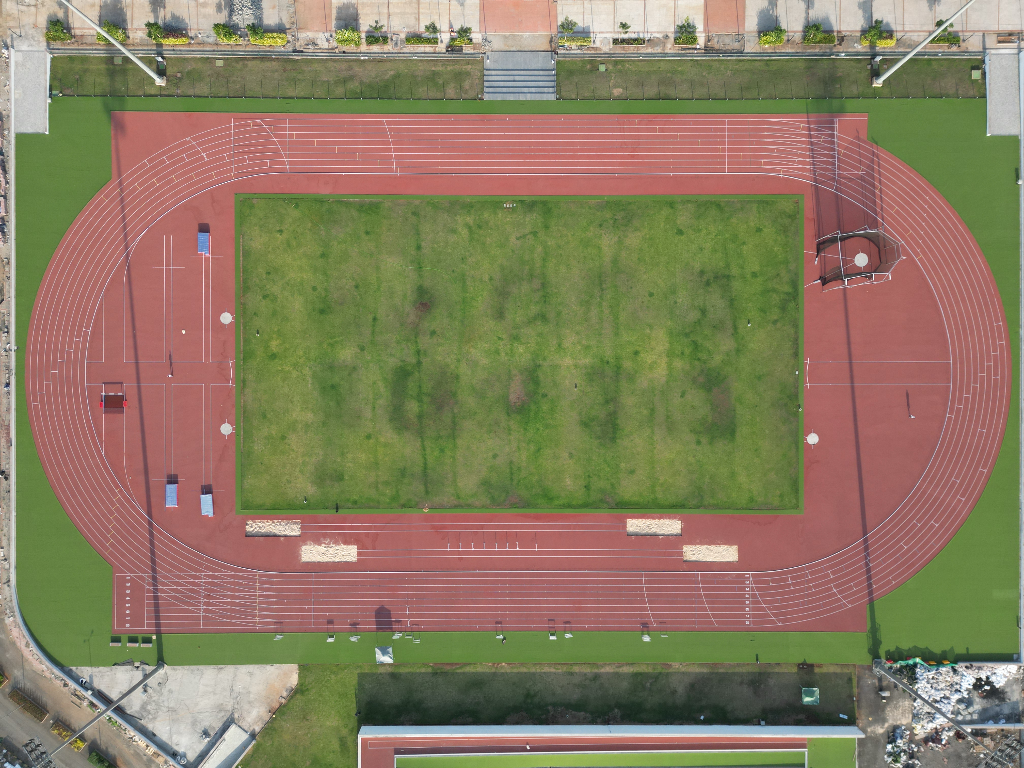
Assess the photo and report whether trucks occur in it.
No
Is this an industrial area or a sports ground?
sports ground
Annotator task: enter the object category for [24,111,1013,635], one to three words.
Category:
running track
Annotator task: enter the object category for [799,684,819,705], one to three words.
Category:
tent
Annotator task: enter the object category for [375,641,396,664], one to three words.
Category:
tent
